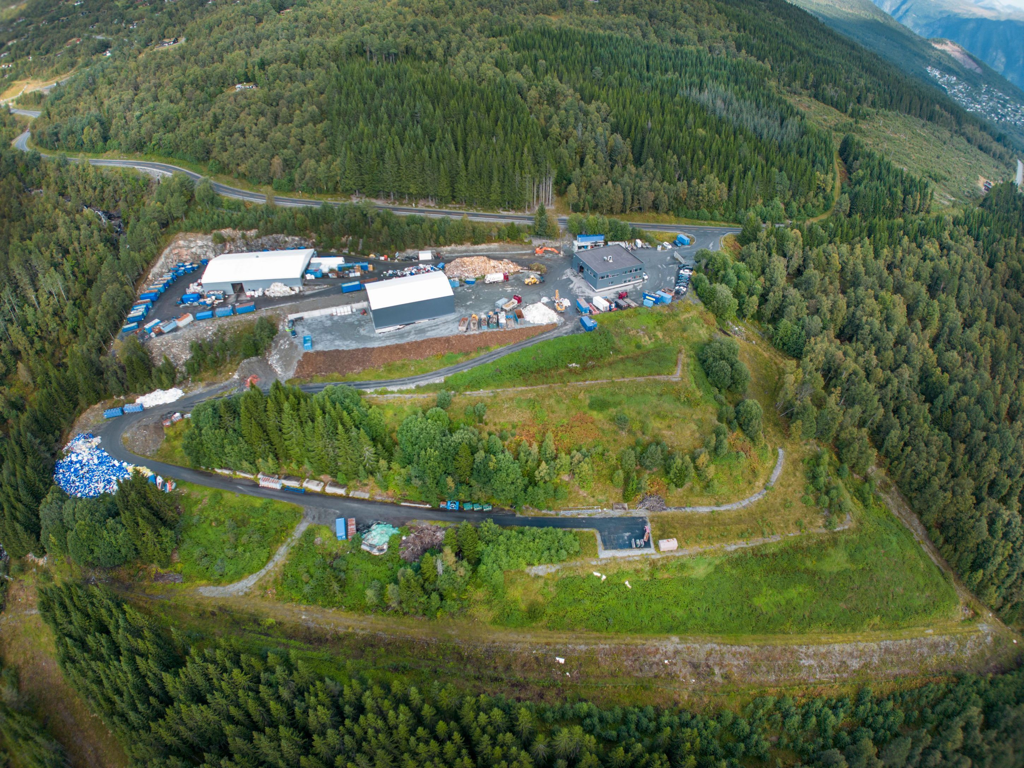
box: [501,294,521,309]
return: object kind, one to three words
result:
vehicle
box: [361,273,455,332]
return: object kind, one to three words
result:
building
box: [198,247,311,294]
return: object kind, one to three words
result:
building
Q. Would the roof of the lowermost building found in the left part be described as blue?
No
